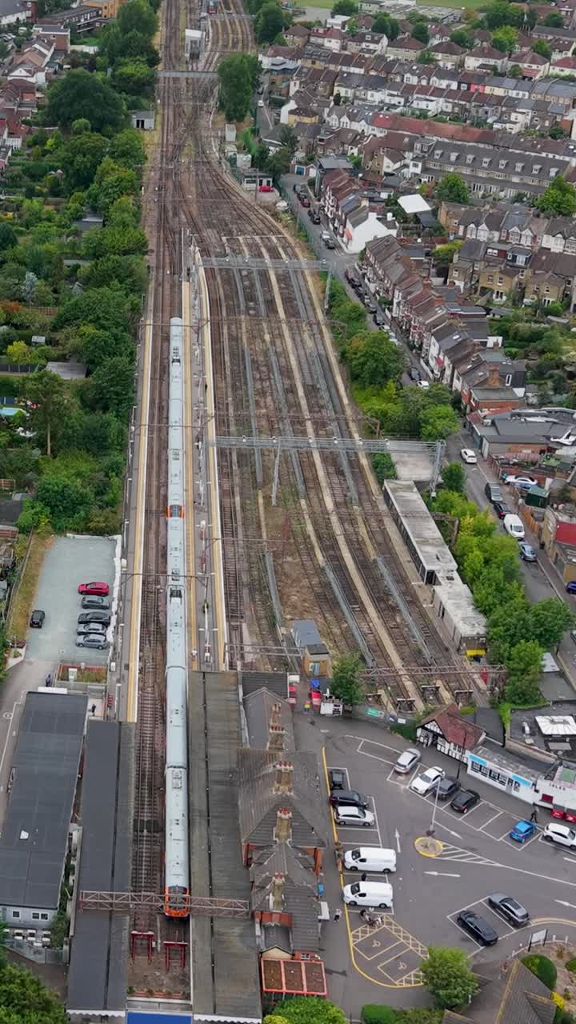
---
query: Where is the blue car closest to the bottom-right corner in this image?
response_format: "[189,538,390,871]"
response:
[509,815,542,841]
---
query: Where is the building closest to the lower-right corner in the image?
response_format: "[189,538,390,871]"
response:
[488,961,560,1024]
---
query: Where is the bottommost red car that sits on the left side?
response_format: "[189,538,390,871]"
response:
[78,579,110,594]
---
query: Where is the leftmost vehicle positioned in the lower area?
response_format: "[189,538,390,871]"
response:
[29,606,46,625]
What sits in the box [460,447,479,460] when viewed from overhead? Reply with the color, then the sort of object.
white vehicle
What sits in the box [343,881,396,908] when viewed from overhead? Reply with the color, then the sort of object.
white vehicle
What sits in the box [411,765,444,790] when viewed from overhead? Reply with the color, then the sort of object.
white car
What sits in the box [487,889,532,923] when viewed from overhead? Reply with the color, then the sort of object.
gray car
